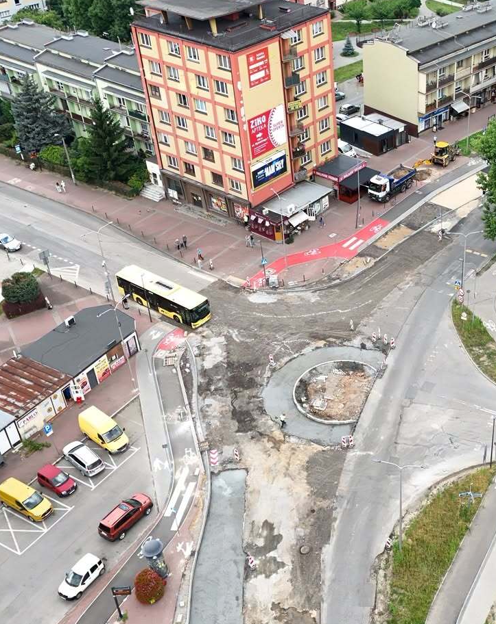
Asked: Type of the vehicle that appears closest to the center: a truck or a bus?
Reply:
bus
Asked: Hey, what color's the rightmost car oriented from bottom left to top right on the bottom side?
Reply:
red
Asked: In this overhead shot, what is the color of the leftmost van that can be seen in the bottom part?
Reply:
yellow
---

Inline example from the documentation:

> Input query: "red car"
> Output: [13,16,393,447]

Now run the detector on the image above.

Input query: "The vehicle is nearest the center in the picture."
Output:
[112,261,216,331]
